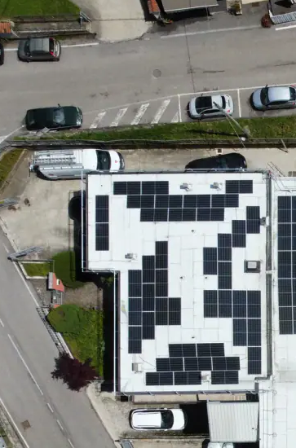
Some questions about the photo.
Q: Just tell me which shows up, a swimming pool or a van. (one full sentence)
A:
The image shows a van.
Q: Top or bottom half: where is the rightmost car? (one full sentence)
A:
It is in the top half that the rightmost car appears.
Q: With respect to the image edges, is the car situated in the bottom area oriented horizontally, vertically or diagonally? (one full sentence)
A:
In this picture, the car situated in the bottom area lies horizontally.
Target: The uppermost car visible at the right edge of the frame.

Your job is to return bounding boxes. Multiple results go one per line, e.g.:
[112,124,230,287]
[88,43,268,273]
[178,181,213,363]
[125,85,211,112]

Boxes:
[251,85,296,114]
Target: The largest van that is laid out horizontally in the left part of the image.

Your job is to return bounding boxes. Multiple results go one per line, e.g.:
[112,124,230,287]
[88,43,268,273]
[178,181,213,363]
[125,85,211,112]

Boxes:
[30,150,129,184]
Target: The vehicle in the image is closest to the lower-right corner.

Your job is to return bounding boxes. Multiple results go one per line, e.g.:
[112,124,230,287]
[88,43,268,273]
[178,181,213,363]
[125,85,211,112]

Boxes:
[130,407,187,432]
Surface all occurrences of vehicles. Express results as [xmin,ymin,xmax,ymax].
[19,36,63,64]
[30,150,129,184]
[187,94,236,121]
[24,104,87,133]
[251,85,296,114]
[187,152,249,171]
[130,407,187,432]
